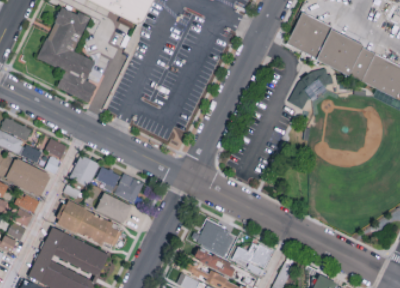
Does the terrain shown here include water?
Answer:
No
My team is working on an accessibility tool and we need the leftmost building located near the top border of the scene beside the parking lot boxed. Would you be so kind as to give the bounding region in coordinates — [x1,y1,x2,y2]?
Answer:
[39,6,98,104]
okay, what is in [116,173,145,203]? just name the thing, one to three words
house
